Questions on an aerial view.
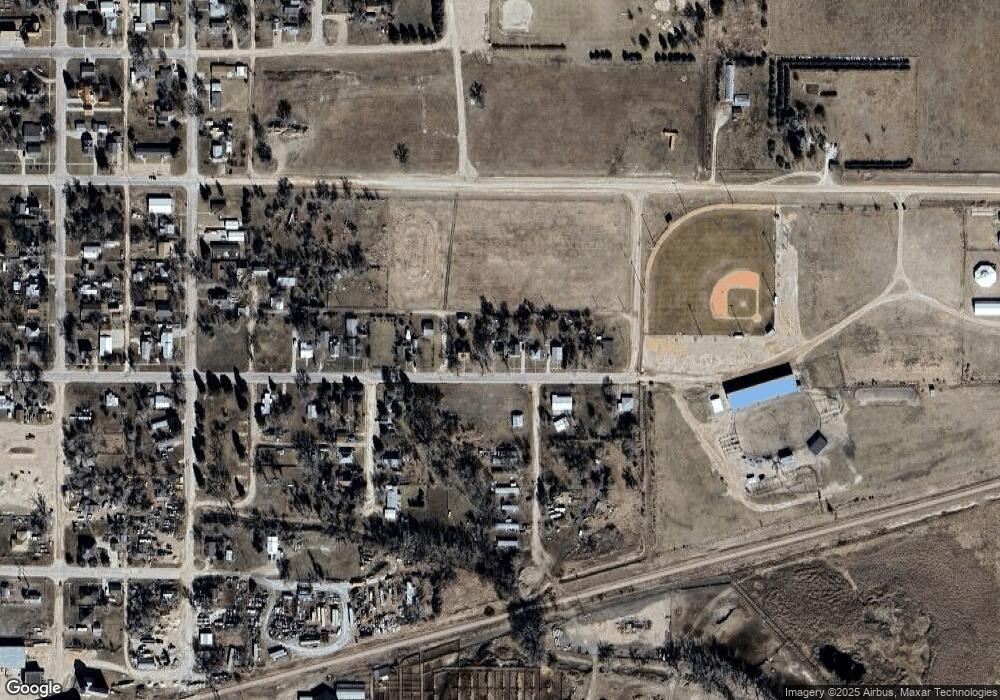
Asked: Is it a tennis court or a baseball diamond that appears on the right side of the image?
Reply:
baseball diamond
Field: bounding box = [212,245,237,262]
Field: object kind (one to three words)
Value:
house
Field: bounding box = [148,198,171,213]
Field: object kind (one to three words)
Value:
barn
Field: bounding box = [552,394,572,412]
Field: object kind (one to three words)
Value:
barn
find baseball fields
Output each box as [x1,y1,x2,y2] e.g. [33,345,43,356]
[646,204,776,335]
